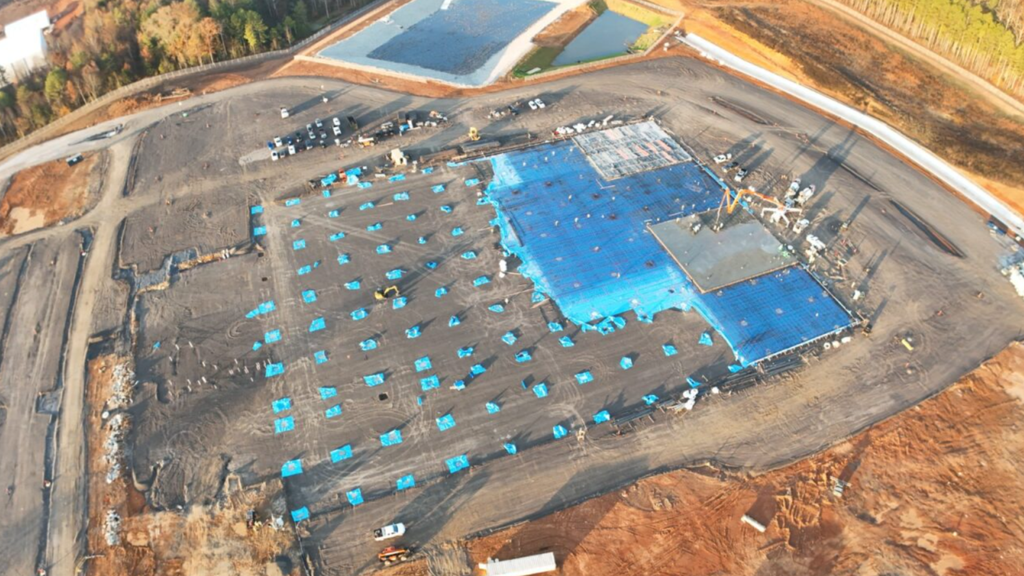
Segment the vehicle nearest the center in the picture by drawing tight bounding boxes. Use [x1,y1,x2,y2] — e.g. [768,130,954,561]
[372,281,400,301]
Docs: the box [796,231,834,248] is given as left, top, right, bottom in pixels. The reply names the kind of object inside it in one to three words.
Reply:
vehicle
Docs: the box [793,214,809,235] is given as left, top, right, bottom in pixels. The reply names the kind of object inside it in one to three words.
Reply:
vehicle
